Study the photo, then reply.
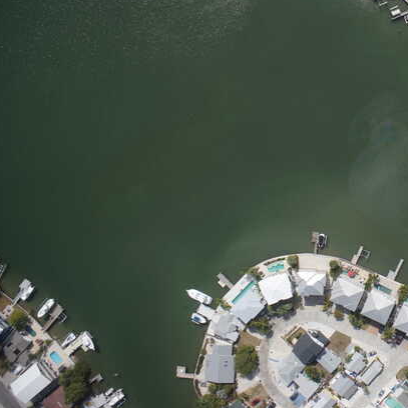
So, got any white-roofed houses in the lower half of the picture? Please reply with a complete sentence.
Yes, a white-roofed house can be seen in the lower half of the picture.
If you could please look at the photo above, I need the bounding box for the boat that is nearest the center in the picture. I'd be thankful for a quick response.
[186,290,214,305]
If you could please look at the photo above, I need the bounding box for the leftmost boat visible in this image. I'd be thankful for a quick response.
[24,281,36,298]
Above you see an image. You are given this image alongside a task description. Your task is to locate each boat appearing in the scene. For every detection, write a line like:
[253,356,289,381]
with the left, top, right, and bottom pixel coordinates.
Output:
[189,311,207,324]
[82,331,95,350]
[39,298,56,317]
[24,281,36,298]
[186,290,214,305]
[316,234,325,250]
[103,389,115,400]
[106,393,123,408]
[62,333,77,346]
